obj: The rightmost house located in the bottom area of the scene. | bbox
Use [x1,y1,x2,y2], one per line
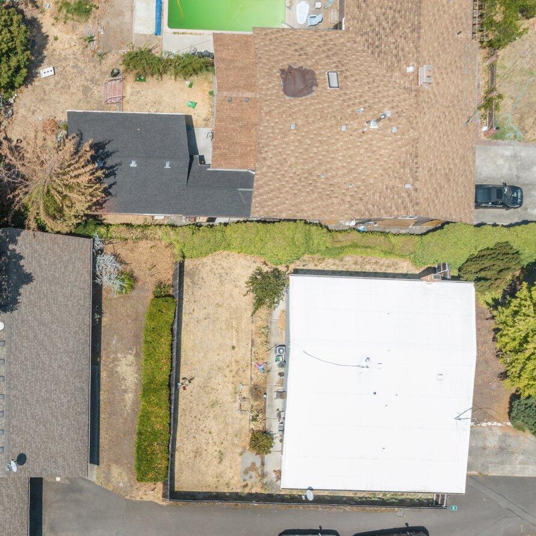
[270,260,476,505]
